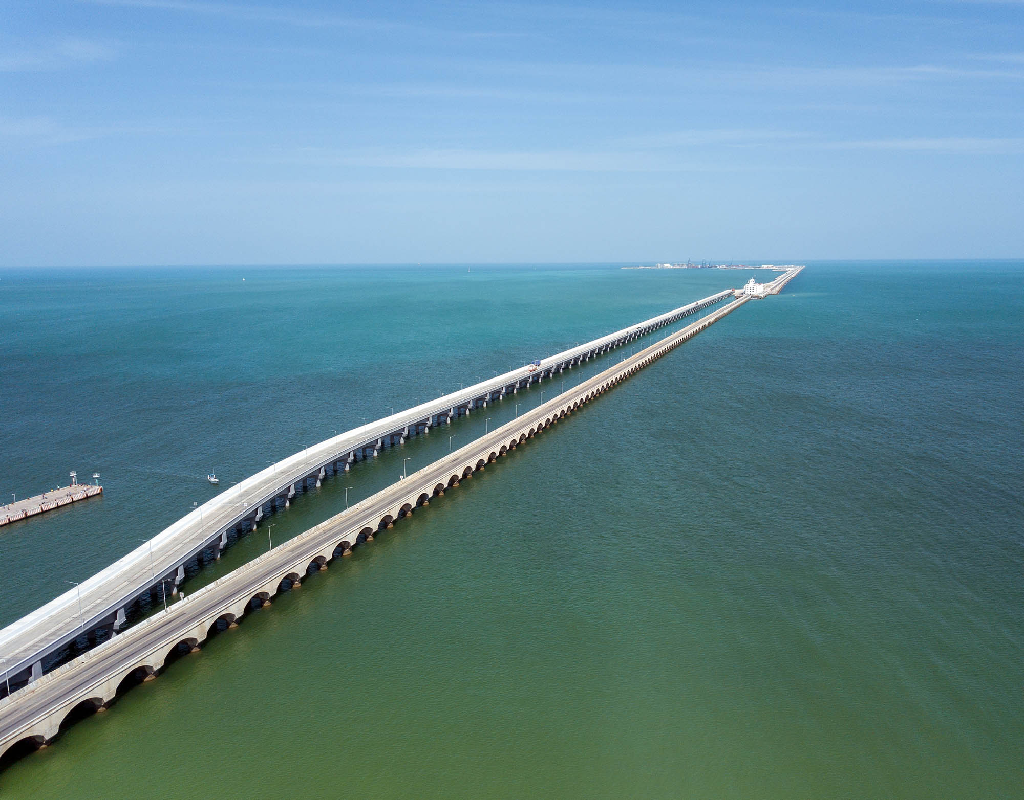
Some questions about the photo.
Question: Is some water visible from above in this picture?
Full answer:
Yes, water can be seen from above here.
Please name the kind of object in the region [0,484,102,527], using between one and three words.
pier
